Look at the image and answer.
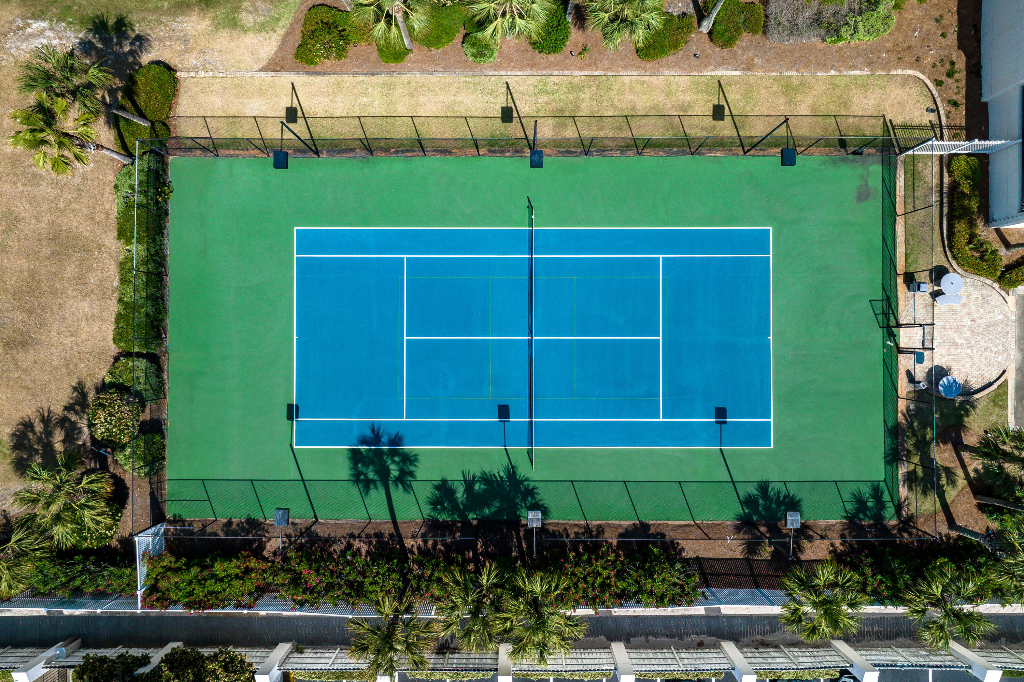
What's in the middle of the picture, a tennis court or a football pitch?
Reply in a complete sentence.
What appears in the middle of the picture is a tennis court.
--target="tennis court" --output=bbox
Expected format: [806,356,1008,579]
[166,155,898,521]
